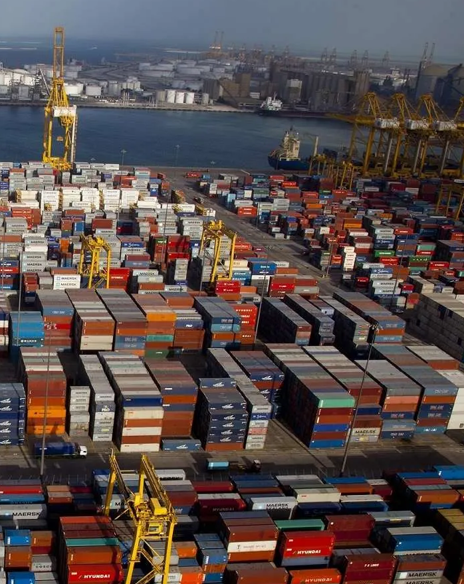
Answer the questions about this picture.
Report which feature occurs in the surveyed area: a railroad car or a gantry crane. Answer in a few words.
gantry crane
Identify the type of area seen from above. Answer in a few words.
industrial area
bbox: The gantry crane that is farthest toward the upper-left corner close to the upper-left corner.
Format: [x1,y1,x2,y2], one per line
[41,28,81,167]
